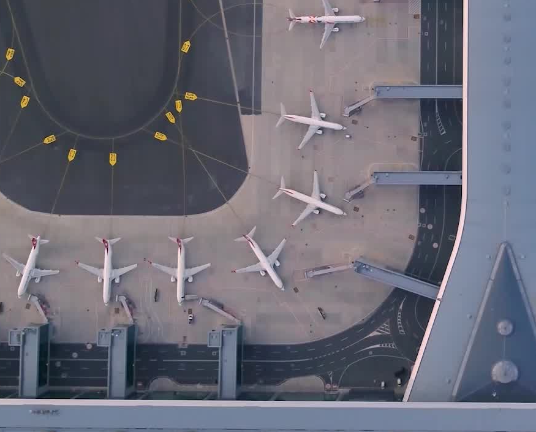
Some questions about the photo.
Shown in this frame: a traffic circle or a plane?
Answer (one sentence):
I can see a plane in this picture.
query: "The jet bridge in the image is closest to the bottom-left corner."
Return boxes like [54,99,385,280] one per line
[28,293,54,323]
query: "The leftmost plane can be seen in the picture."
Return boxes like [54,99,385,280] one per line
[5,231,60,302]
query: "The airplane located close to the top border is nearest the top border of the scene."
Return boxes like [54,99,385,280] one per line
[288,0,365,48]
